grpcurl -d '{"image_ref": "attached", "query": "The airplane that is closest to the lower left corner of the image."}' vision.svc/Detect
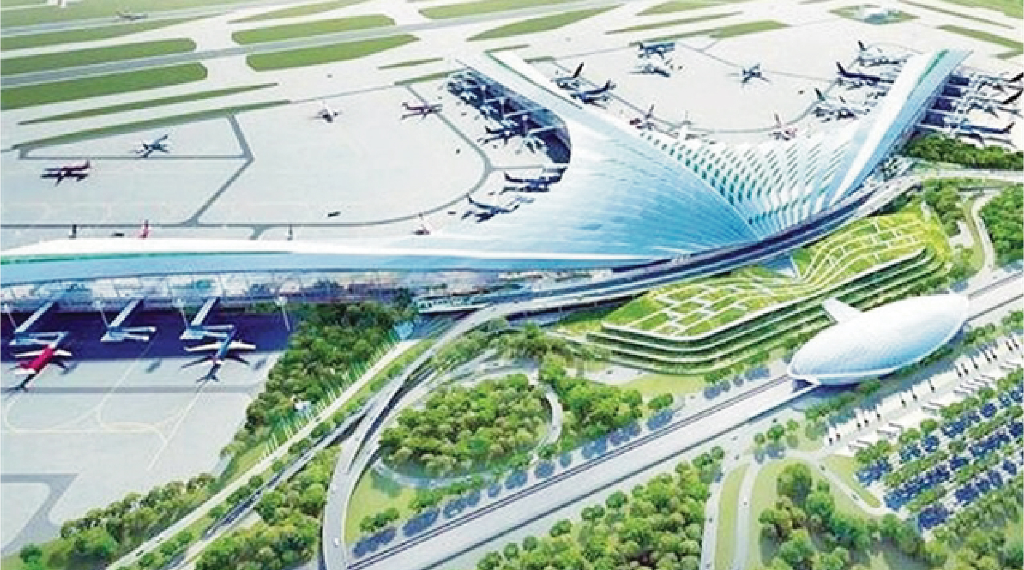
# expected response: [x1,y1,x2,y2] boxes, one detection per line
[0,330,79,382]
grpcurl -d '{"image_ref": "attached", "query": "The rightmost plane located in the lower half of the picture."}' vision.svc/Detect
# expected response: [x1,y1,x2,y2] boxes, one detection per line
[171,328,256,379]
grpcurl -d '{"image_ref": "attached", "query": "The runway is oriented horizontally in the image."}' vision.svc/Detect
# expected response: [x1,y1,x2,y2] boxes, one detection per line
[0,0,644,88]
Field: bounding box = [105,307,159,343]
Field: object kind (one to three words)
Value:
jet bridge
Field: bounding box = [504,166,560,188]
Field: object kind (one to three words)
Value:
airplane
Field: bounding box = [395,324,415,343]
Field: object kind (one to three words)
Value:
building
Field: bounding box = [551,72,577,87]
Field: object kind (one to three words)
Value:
airplane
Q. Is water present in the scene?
No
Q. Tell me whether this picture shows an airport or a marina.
airport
